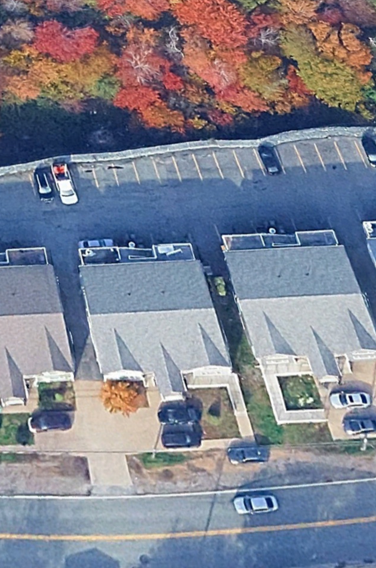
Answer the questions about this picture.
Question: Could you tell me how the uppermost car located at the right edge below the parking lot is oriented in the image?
from side to side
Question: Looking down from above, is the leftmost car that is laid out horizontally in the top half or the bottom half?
bottom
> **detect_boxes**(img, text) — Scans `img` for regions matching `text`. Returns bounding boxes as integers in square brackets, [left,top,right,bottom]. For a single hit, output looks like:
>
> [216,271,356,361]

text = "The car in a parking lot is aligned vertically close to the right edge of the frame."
[359,132,376,169]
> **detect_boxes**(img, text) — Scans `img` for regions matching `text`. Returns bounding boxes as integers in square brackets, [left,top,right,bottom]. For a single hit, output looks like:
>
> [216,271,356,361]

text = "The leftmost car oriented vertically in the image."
[34,164,54,202]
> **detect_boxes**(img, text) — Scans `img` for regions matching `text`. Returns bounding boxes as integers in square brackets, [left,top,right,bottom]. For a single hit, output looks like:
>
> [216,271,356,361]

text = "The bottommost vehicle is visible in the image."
[233,494,279,513]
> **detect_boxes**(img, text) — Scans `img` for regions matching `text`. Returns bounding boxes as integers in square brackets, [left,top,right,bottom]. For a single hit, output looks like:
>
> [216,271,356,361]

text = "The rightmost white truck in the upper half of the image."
[51,160,76,206]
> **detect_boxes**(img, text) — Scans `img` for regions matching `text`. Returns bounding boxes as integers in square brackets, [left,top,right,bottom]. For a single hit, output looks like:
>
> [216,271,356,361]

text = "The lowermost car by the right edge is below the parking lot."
[341,416,376,437]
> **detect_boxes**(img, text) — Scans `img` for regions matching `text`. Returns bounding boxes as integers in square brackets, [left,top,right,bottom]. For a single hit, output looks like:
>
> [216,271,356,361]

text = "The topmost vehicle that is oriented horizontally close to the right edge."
[329,389,370,409]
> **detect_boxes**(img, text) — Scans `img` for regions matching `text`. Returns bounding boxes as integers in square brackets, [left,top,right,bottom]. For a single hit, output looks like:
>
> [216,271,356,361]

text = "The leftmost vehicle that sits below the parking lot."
[28,411,74,432]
